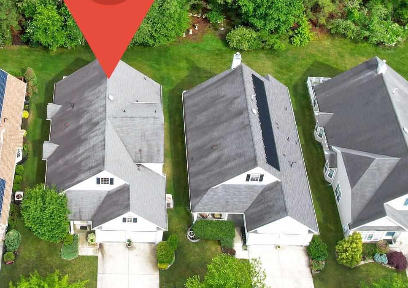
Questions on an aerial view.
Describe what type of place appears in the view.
residential area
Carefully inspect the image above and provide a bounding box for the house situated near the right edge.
[312,56,408,250]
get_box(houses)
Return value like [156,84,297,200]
[312,56,408,250]
[0,69,28,240]
[41,53,169,243]
[181,48,320,246]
